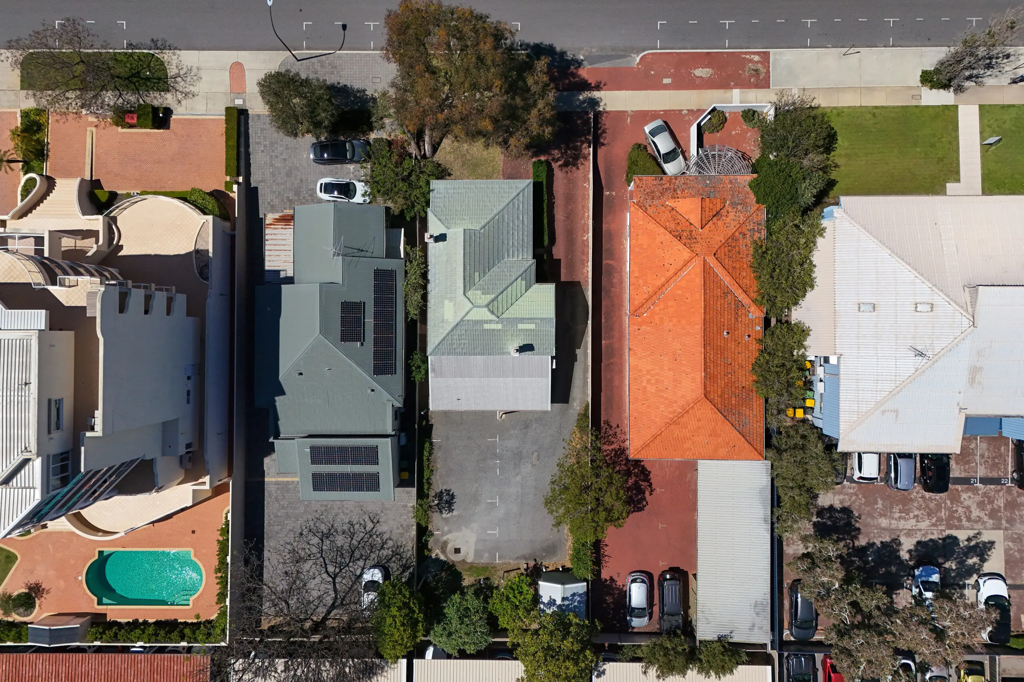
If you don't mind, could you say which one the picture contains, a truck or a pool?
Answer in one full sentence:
The image shows a pool.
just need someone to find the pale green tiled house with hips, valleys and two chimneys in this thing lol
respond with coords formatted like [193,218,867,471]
[425,179,556,411]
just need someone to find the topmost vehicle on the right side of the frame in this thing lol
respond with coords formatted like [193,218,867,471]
[644,119,683,174]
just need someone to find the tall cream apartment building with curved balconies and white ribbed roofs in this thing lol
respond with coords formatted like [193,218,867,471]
[0,172,230,541]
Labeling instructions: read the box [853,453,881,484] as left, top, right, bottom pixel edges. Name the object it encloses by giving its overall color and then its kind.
white car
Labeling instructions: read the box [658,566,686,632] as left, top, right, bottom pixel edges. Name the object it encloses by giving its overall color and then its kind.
black car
